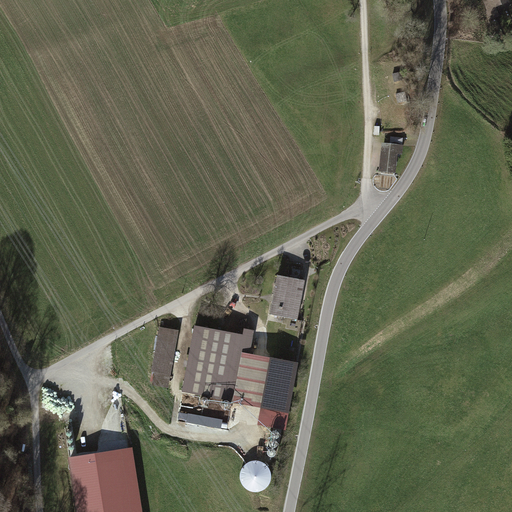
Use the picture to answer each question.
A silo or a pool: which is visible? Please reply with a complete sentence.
This aerial view contains a silo.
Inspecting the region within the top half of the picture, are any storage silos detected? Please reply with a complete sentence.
No, I see no storage silo within the top half of the picture.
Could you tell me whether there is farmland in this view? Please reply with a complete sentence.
Yes, farmland shows up in the scene.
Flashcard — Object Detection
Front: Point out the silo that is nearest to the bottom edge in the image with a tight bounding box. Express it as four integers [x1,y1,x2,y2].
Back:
[240,460,271,492]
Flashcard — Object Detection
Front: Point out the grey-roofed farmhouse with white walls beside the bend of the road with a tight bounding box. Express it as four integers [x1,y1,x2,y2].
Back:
[270,276,304,321]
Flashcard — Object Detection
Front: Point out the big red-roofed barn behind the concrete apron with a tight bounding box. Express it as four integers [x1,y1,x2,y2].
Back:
[70,448,142,512]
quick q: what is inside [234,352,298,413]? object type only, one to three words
barn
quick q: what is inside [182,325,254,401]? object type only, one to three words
barn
